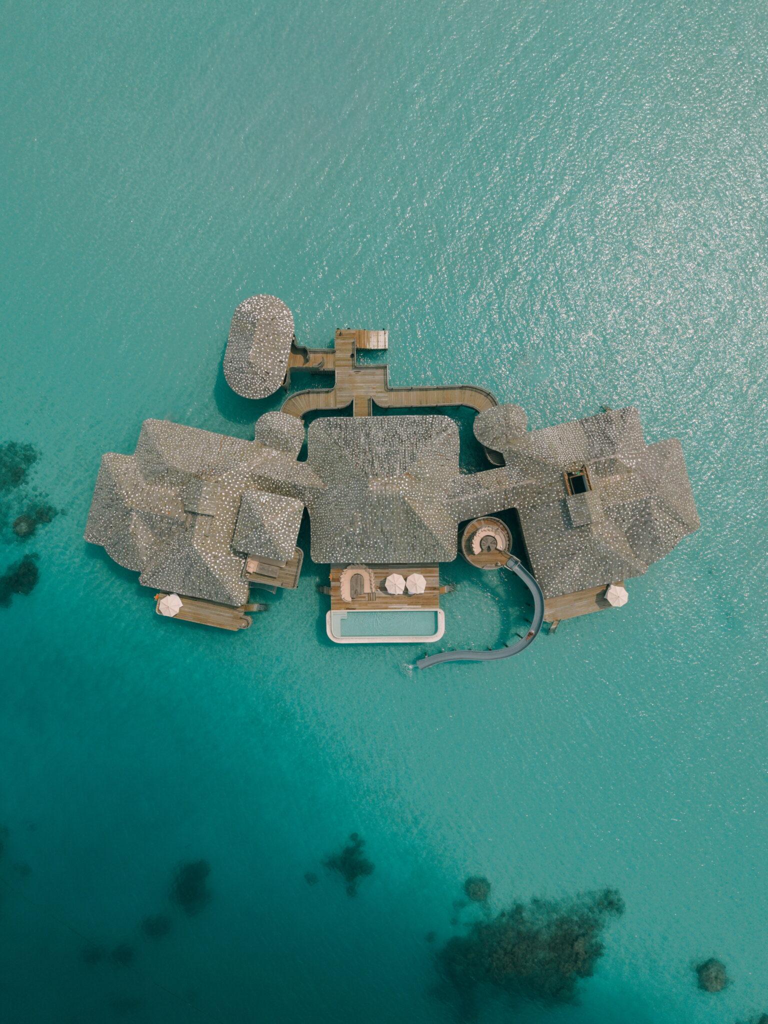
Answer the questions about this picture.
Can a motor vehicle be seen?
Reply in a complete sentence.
No, I can't see a single motor vehicle in this photo.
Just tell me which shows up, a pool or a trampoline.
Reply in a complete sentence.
The one in the frame is a pool.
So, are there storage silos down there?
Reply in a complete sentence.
No, the photo shows no storage silo.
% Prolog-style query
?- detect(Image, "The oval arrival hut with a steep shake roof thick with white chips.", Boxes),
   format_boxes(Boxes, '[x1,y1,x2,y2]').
[223,295,294,399]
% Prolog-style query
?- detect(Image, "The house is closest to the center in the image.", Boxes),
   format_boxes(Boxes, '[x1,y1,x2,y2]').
[307,414,459,564]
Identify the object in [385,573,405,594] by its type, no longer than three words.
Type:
umbrella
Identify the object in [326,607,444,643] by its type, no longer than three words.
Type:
swimming pool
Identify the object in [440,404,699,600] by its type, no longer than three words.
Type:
house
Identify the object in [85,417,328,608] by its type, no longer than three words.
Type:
house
